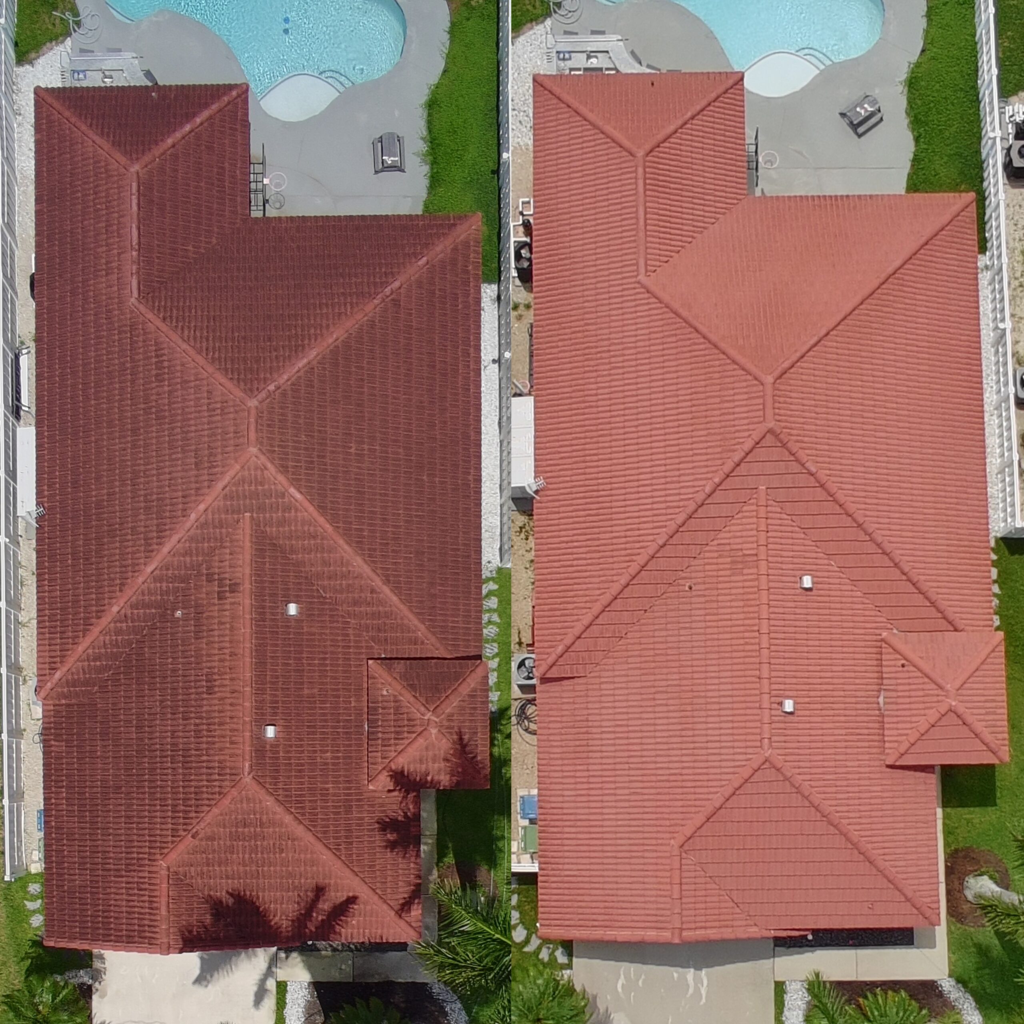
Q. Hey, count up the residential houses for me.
2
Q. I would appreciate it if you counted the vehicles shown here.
0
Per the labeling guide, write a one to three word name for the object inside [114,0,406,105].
swimming pool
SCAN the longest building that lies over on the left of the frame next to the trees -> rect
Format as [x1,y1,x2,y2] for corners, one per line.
[34,82,491,953]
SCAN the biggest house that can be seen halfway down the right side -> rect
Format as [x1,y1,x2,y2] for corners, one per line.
[533,71,1009,943]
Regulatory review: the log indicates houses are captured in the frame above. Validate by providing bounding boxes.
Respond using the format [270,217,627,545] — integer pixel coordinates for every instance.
[533,71,1009,943]
[34,82,491,953]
